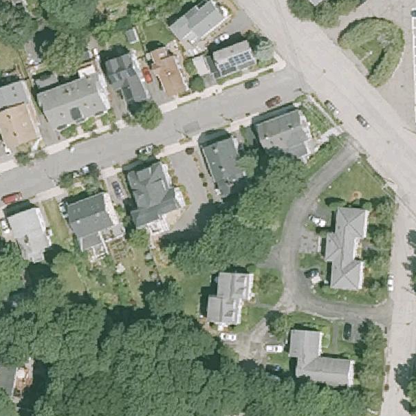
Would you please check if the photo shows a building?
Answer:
Yes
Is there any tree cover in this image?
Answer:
Yes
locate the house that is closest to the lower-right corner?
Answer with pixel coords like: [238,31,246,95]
[290,330,355,387]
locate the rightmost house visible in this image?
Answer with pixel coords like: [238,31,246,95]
[325,207,370,289]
